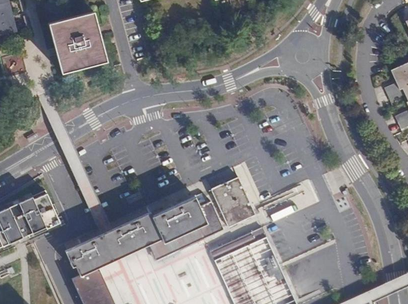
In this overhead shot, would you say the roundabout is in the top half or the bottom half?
top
